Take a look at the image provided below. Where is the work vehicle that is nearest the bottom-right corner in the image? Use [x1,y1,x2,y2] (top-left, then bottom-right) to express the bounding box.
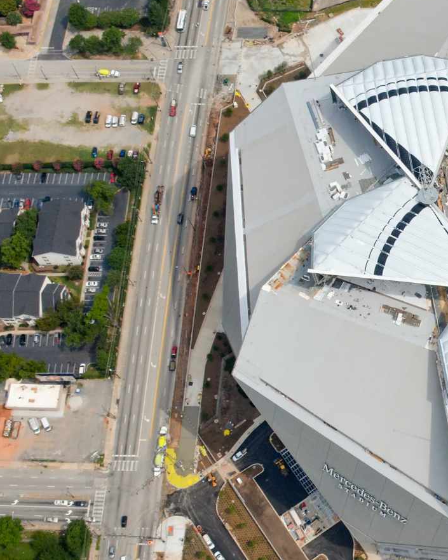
[274,452,287,471]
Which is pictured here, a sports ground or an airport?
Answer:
sports ground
